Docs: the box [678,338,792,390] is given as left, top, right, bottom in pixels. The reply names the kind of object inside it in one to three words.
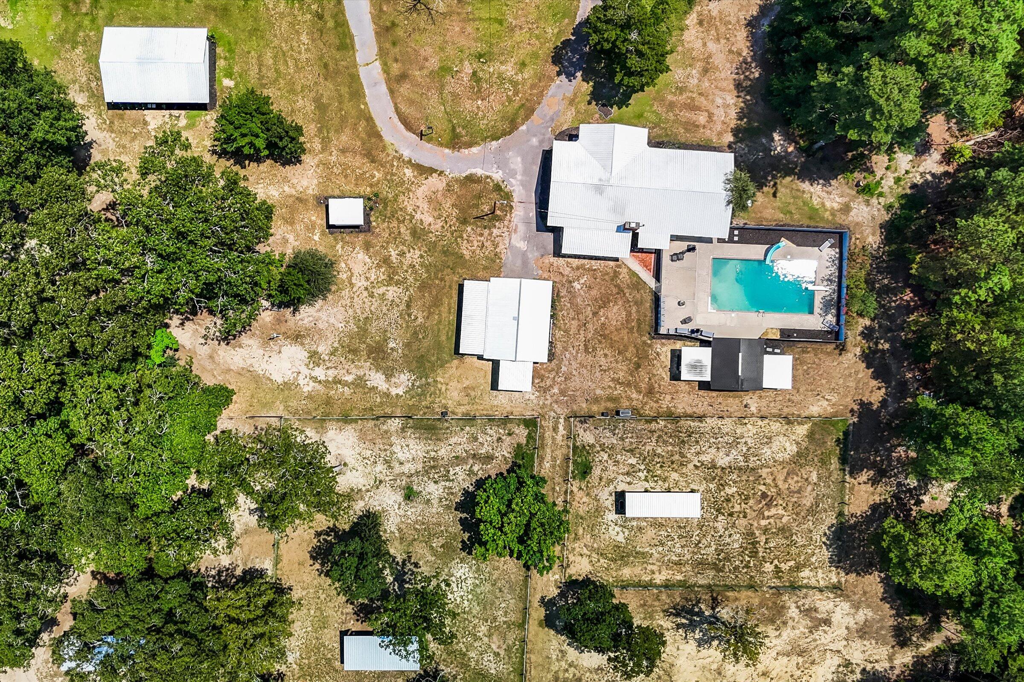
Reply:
building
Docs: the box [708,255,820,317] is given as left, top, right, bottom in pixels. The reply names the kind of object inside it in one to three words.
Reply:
swimming pool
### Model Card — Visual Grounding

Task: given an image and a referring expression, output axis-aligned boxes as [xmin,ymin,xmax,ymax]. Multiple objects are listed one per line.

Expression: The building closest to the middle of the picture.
[460,277,552,391]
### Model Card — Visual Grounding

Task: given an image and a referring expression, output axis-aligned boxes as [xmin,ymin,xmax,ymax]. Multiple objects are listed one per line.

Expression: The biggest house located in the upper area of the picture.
[547,124,734,258]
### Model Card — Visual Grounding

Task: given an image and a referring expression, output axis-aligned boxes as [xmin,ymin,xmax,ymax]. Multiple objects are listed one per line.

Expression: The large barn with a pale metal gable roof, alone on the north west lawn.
[99,27,214,106]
